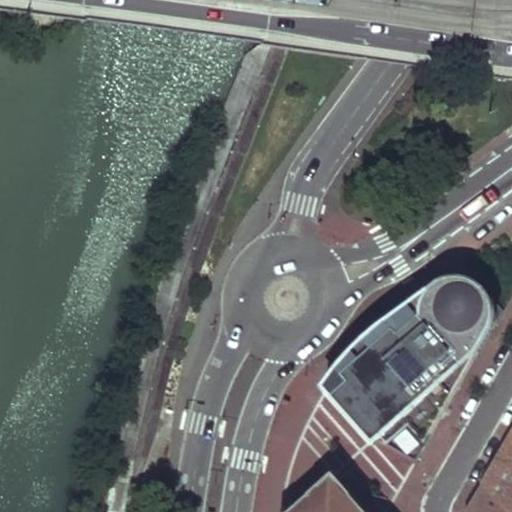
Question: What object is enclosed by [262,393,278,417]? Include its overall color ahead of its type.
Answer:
white car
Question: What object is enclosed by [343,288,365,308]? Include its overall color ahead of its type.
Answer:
white car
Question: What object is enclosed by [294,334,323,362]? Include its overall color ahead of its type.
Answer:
white vehicle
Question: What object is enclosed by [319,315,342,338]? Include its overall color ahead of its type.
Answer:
white vehicle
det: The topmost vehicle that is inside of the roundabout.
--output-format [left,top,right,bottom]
[274,262,297,274]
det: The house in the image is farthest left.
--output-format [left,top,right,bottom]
[288,471,368,512]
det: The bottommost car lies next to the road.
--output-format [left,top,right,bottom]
[469,460,486,482]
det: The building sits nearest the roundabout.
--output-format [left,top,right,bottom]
[318,276,494,443]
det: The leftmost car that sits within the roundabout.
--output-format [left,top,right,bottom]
[226,325,244,350]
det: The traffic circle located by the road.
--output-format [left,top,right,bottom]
[213,212,360,364]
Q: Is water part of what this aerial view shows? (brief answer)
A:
Yes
